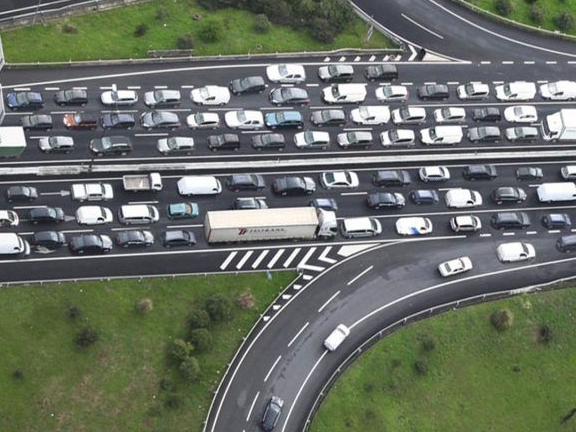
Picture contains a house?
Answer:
No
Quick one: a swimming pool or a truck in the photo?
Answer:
truck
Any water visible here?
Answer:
No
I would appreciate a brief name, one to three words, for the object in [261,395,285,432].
car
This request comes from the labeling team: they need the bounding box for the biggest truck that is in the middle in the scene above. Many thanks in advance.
[202,206,336,242]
